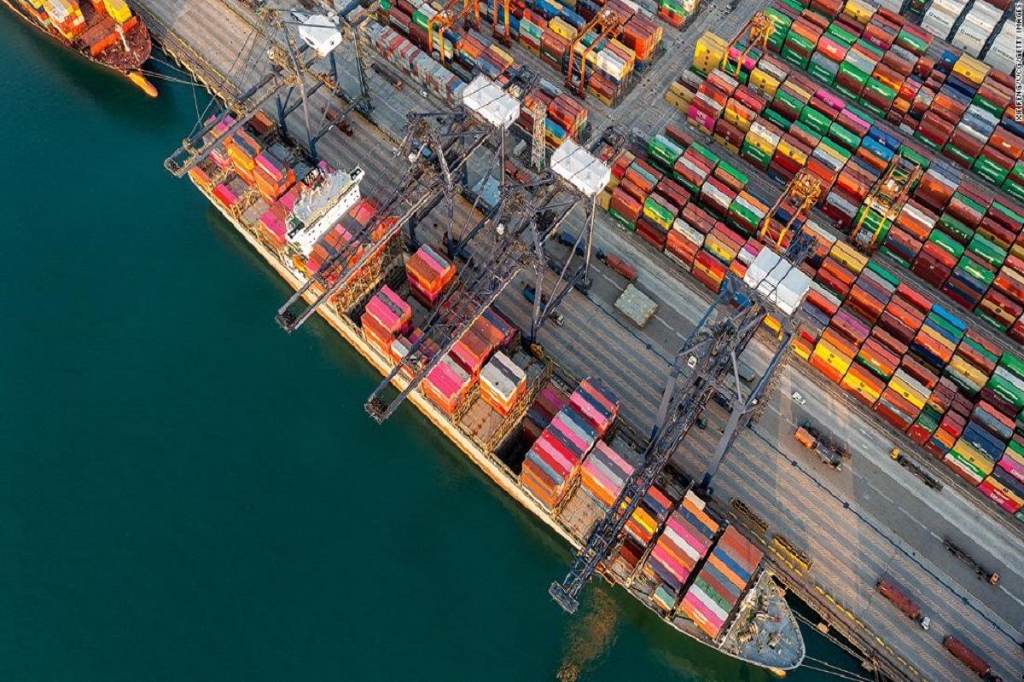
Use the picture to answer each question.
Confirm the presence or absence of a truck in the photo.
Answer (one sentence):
Yes, a truck is visible in the scene.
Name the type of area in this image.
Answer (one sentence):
What you see here is a port.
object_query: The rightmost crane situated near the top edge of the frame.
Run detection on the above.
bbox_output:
[717,15,771,85]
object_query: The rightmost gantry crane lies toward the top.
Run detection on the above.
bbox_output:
[849,155,924,251]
